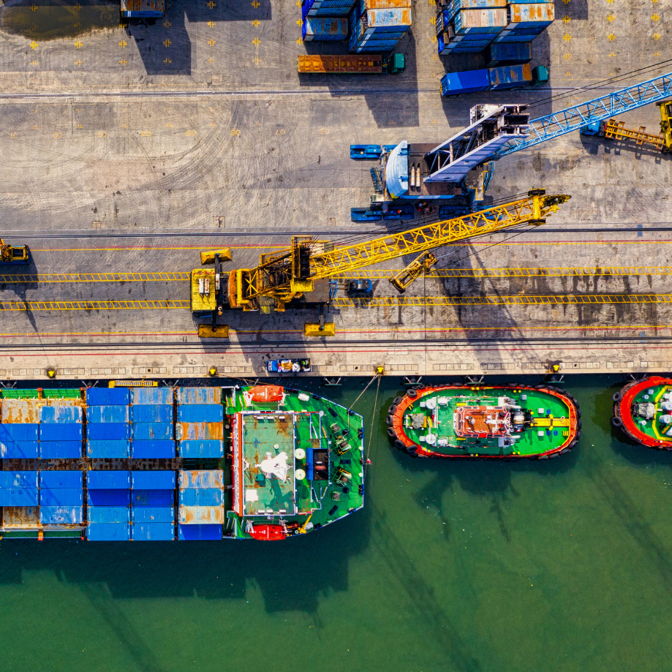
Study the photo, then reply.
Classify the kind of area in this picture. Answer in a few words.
port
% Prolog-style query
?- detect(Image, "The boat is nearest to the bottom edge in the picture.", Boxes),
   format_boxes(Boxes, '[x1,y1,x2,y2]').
[251,523,286,542]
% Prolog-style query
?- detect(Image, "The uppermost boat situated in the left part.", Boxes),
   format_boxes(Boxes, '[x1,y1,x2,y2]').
[248,384,283,402]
